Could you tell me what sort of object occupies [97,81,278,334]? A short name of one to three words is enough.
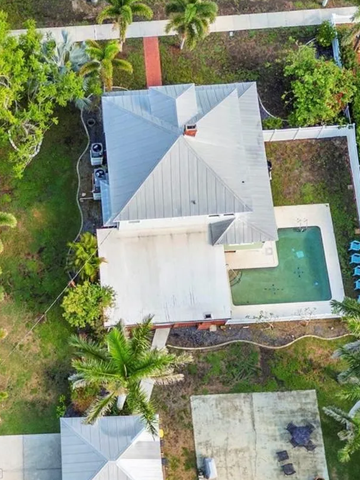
house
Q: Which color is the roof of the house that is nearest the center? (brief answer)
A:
white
